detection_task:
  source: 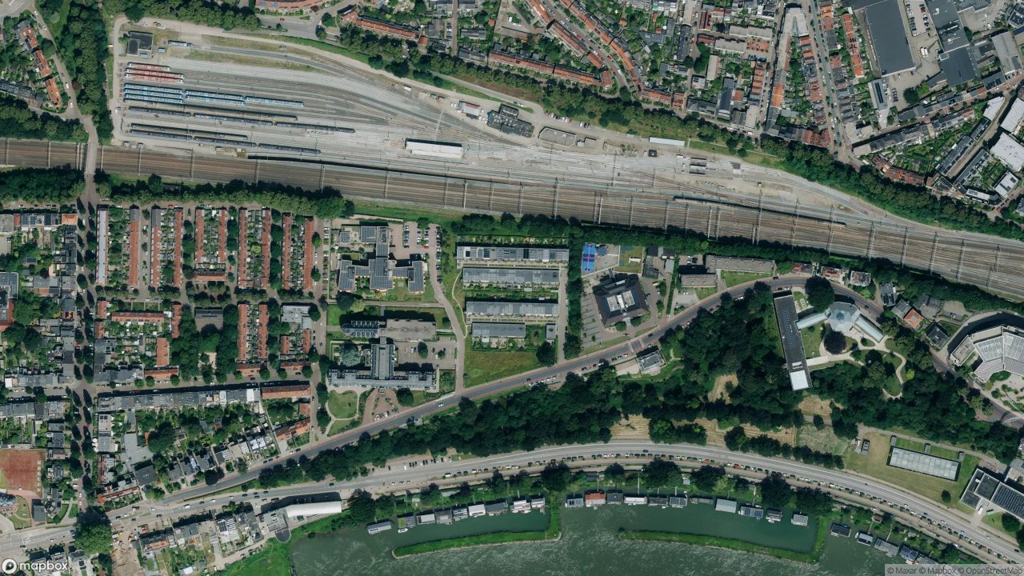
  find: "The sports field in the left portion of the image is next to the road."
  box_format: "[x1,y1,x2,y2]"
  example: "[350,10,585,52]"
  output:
[0,448,46,523]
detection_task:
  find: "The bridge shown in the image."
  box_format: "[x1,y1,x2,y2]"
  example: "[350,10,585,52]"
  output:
[85,114,97,189]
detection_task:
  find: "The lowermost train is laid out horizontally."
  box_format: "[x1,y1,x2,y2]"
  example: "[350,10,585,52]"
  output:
[675,198,846,227]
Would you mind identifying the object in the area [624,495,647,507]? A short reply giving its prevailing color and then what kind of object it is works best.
white boat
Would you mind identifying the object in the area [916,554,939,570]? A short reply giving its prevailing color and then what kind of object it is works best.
gray boat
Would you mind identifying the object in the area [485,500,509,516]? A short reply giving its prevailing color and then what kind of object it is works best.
gray boat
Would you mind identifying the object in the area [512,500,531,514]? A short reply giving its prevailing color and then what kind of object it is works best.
white boat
